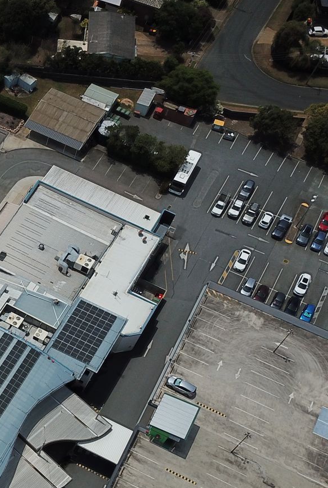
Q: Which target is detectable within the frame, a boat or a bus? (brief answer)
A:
bus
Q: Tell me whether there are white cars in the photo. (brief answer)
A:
Yes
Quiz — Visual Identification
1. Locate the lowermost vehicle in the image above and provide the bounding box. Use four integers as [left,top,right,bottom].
[167,378,197,398]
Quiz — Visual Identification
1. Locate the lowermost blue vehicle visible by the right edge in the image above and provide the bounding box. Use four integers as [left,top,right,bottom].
[299,304,317,323]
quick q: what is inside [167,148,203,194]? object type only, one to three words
bus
